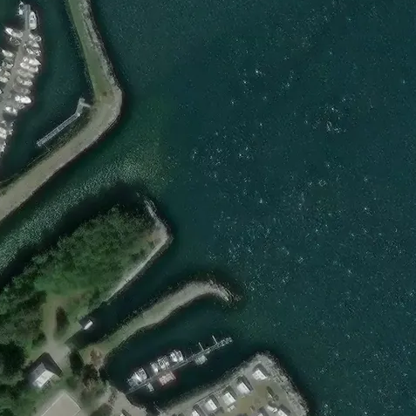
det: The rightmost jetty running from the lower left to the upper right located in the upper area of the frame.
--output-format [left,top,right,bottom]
[37,98,91,150]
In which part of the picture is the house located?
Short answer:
bottom left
